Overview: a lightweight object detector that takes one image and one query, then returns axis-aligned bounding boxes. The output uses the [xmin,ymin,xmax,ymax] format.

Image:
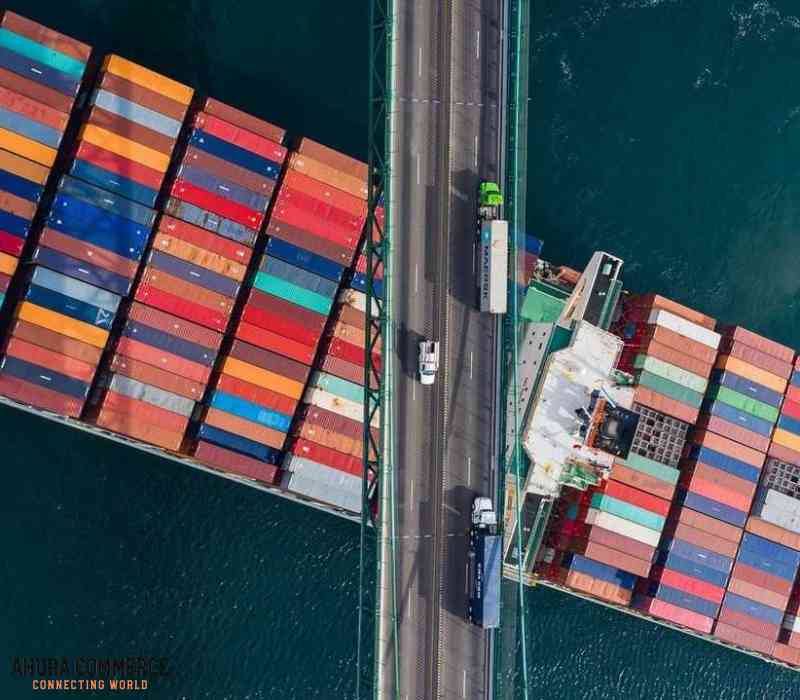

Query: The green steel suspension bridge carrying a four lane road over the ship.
[359,0,531,700]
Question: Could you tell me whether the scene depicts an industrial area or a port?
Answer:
port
